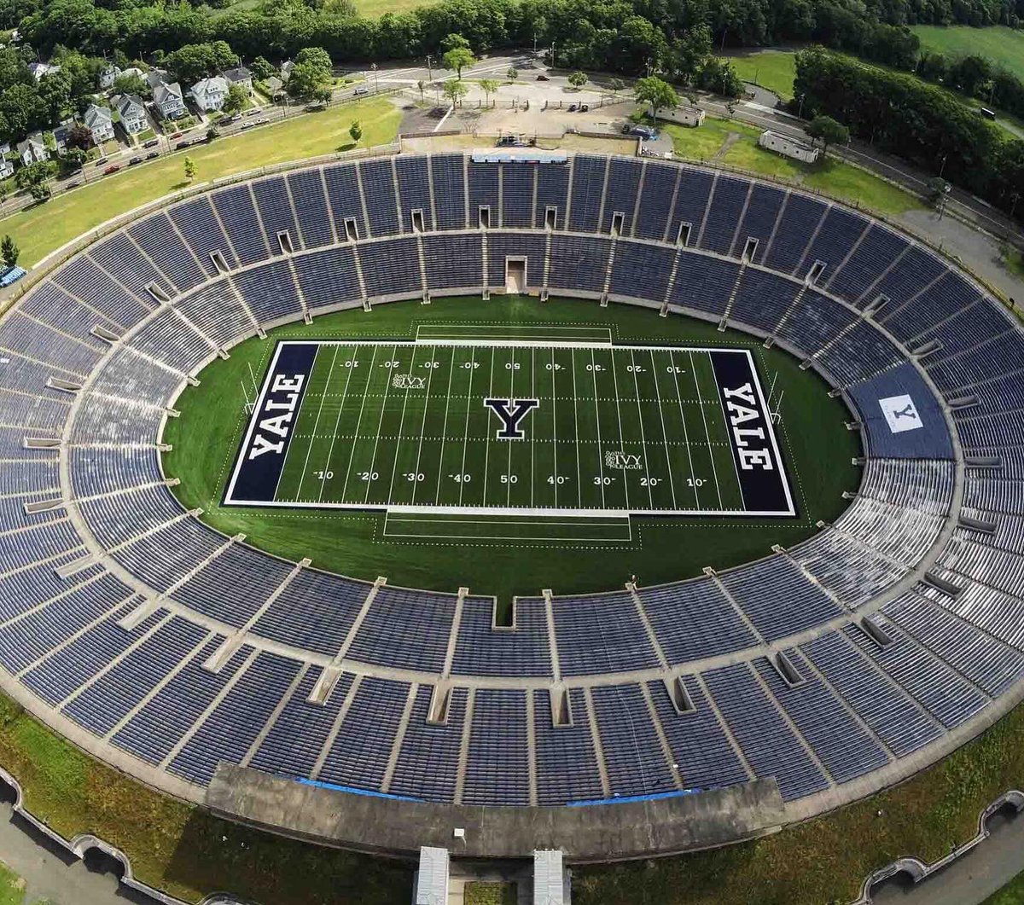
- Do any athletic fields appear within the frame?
Yes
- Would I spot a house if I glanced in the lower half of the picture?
No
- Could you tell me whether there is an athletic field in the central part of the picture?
Yes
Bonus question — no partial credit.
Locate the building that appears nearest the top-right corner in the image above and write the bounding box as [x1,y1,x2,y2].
[760,128,817,163]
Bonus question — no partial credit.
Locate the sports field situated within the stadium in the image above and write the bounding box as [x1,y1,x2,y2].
[158,292,865,630]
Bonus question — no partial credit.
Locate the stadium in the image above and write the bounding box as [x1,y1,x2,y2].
[0,148,1024,826]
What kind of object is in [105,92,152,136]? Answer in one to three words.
house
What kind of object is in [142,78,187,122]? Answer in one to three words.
house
